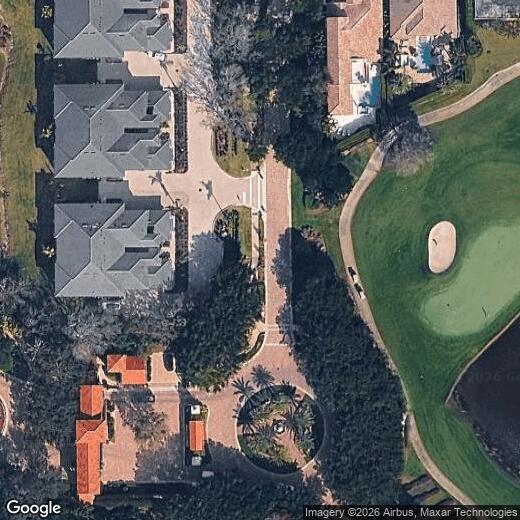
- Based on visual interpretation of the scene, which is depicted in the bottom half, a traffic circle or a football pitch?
traffic circle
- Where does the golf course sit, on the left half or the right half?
right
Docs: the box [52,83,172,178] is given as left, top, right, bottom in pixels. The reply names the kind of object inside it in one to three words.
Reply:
house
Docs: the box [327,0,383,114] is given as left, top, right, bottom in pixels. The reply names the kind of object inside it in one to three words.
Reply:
house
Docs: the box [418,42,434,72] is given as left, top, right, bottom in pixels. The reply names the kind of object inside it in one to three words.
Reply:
swimming pool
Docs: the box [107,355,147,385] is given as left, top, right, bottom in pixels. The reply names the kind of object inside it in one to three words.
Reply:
building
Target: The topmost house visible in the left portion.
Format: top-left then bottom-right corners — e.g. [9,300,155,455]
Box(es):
[53,0,172,57]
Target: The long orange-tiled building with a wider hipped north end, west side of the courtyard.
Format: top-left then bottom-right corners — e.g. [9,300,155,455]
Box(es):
[75,420,107,505]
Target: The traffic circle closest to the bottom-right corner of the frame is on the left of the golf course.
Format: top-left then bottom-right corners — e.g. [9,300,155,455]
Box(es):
[222,373,335,488]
